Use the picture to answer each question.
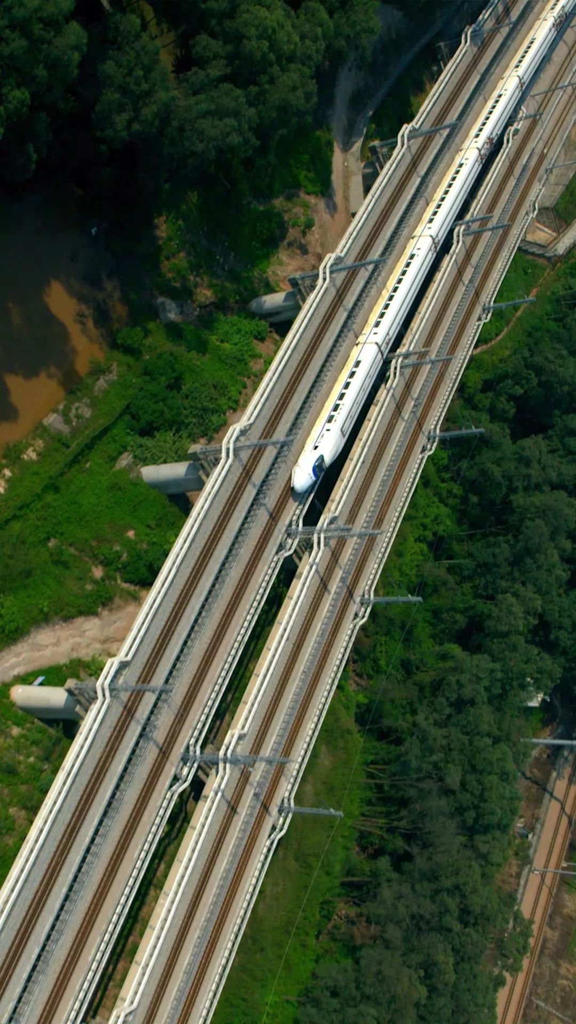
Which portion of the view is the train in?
top right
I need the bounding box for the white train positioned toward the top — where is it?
[289,0,570,495]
